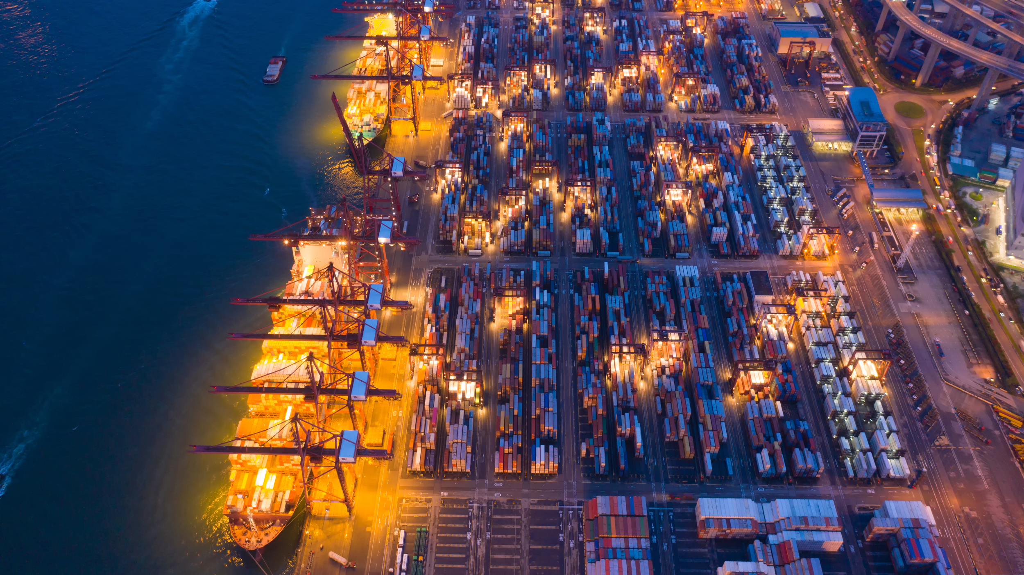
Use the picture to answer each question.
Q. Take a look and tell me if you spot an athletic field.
No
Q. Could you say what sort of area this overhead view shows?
port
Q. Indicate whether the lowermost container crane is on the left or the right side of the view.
left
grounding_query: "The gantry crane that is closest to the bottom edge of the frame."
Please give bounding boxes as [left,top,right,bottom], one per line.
[185,411,396,521]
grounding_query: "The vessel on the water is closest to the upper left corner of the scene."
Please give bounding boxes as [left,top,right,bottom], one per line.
[264,55,287,84]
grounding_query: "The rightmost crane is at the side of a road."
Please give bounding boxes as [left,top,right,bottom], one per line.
[846,350,896,384]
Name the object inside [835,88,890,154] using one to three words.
building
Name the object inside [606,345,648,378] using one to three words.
container crane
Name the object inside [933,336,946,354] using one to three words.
vehicle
